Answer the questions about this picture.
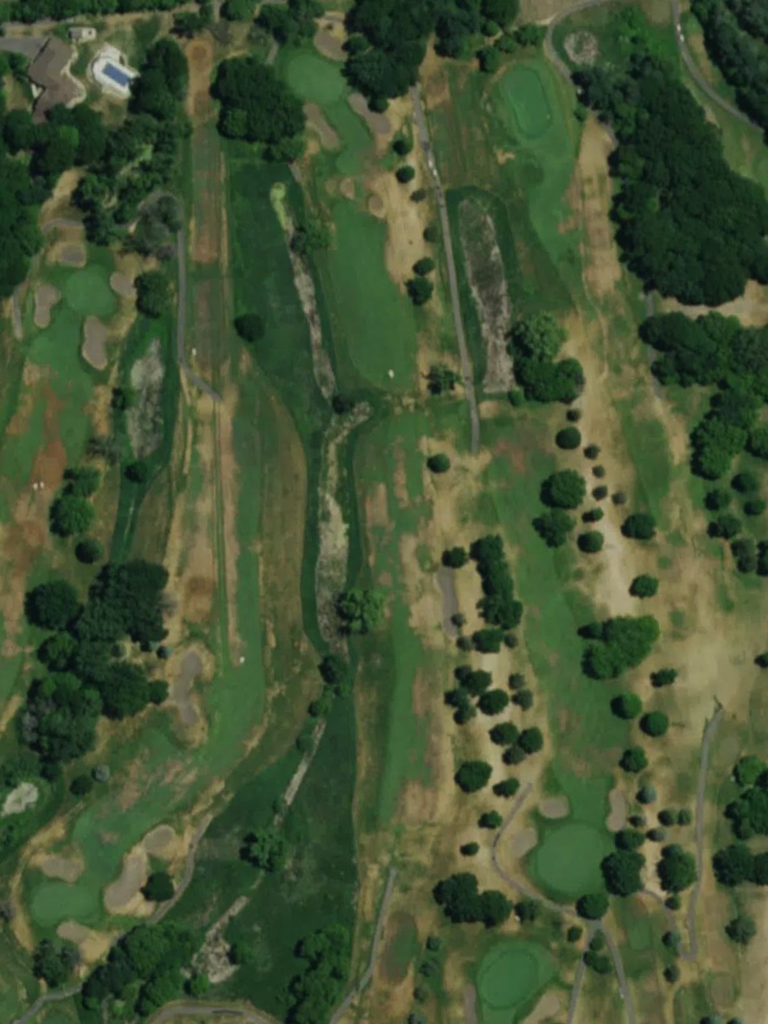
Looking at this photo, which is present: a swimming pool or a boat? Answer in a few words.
swimming pool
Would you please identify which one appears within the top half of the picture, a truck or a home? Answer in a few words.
home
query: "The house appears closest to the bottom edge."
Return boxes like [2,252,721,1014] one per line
[29,37,78,119]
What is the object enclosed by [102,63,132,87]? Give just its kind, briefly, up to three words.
swimming pool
